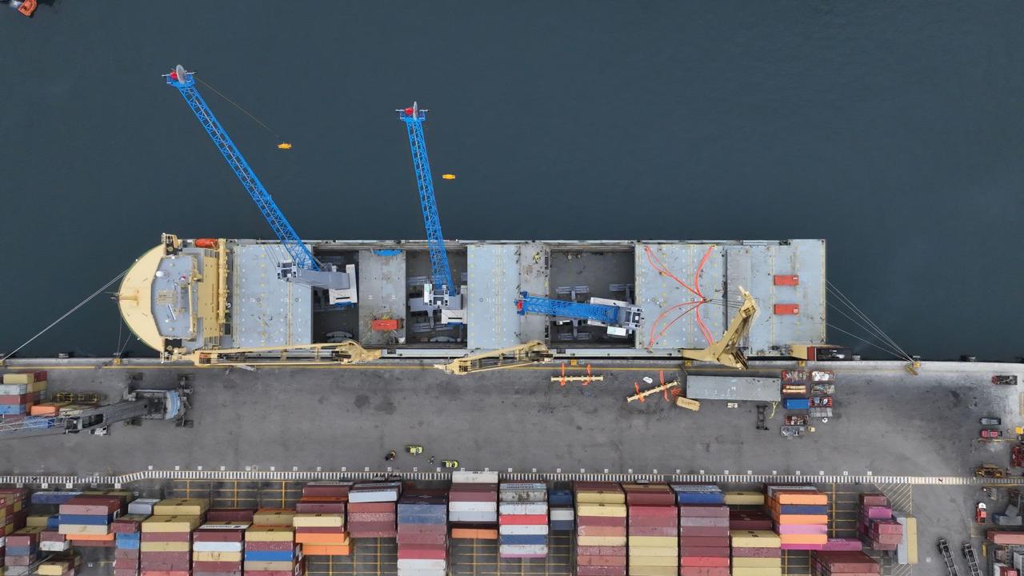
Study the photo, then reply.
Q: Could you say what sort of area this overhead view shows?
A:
port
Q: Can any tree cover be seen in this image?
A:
No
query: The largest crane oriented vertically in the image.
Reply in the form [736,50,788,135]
[395,100,465,332]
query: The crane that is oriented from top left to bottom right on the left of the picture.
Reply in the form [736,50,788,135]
[160,63,362,314]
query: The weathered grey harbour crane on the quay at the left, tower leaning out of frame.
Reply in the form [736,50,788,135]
[0,373,194,446]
